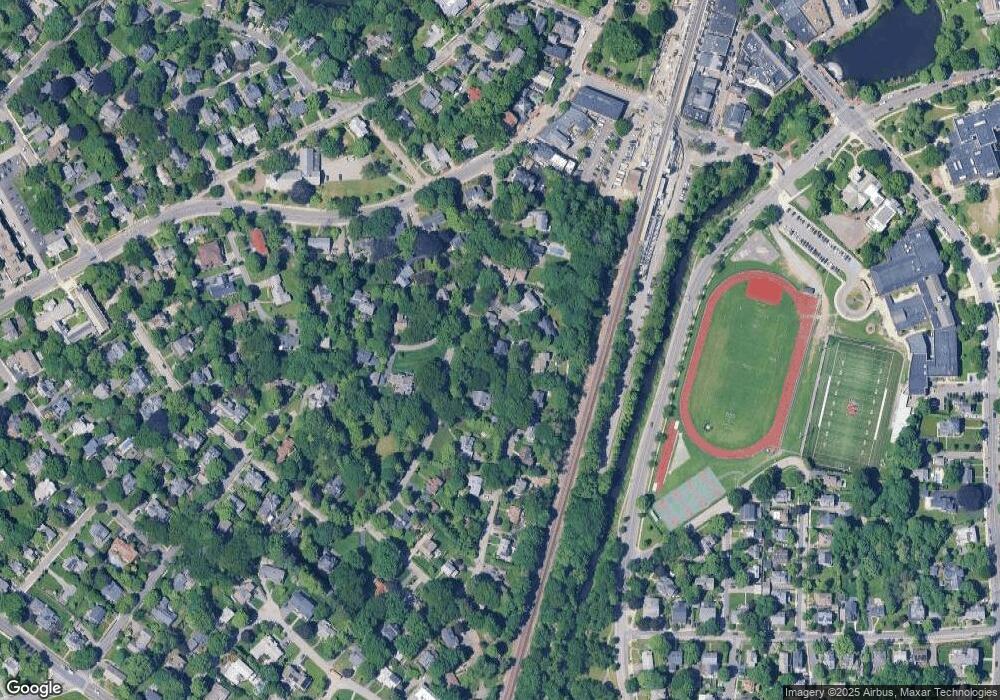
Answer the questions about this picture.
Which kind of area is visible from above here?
residential area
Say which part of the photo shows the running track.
right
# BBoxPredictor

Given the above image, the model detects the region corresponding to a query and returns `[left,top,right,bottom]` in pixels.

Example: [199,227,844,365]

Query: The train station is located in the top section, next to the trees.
[633,2,714,242]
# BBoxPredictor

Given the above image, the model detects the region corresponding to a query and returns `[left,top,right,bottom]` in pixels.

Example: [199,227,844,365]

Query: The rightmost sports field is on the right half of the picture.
[806,336,904,474]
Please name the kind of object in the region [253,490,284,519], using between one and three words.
house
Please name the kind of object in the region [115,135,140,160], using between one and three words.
house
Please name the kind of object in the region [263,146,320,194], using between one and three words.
building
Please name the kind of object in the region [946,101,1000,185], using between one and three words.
building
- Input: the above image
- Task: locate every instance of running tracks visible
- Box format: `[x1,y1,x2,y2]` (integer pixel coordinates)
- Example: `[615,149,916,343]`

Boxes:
[682,268,820,460]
